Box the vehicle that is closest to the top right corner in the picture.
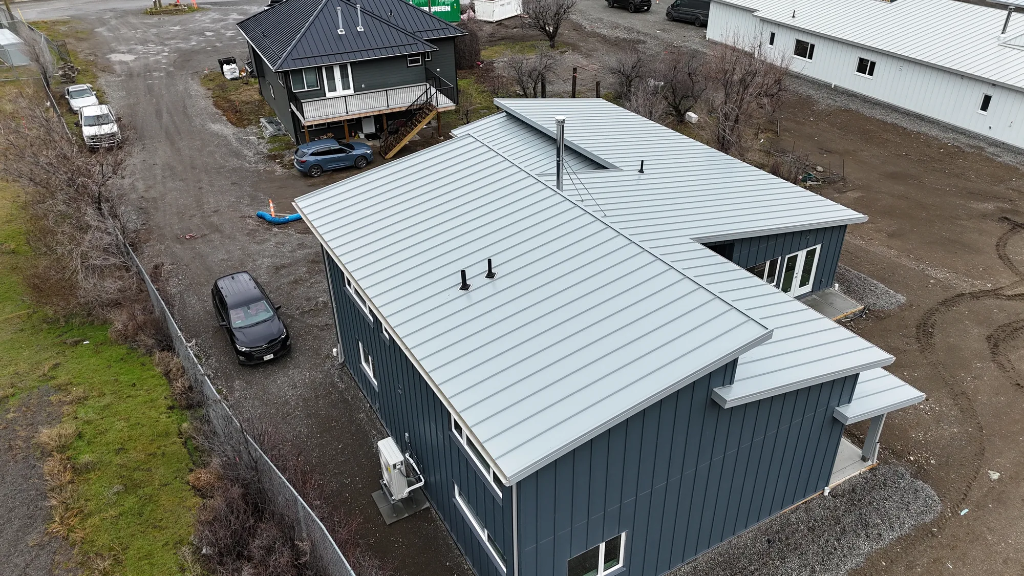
[659,0,710,24]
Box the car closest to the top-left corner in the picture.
[65,85,100,116]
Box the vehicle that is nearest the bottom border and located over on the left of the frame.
[210,270,286,360]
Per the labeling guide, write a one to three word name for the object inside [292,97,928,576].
house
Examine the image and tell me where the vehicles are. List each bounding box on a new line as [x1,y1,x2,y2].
[604,0,650,11]
[288,136,376,177]
[659,0,710,24]
[74,102,124,150]
[210,270,286,360]
[65,85,100,116]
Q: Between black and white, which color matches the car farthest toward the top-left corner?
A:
white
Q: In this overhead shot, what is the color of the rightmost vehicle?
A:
black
